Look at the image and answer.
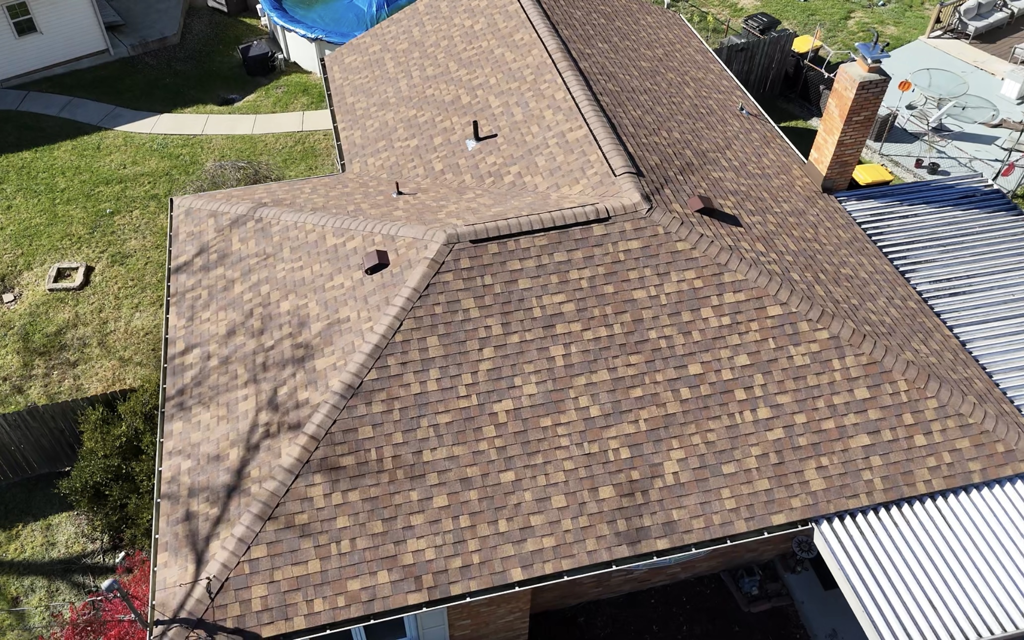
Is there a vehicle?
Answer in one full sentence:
No, the picture doesn't show any vehicle.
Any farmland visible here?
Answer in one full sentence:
No, the picture contains no farmland.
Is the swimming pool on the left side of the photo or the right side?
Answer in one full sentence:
The swimming pool sits on the left side.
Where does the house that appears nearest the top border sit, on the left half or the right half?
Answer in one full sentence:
The house that appears nearest the top border appears in the left half of the scene.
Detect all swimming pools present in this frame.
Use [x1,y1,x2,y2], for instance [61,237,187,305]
[255,0,410,77]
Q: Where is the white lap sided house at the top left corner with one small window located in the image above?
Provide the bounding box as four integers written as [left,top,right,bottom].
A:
[0,0,115,85]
